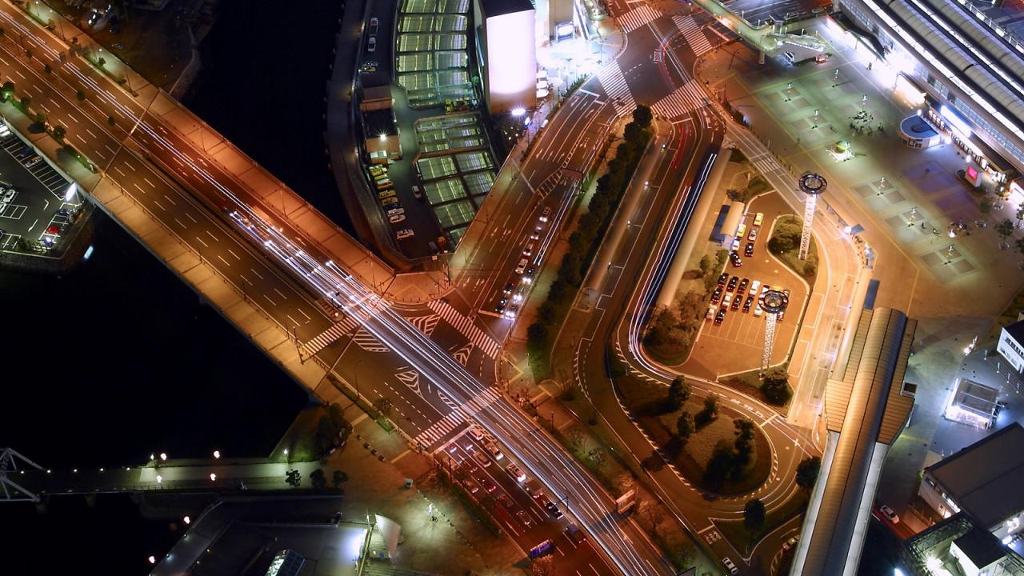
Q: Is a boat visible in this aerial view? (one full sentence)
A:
No, I can't see a single boat in this photo.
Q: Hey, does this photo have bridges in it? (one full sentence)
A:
Yes, a bridge can be made out from above.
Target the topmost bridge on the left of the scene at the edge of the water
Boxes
[88,86,395,397]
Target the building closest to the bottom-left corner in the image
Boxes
[200,533,277,576]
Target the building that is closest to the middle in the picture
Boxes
[414,110,500,257]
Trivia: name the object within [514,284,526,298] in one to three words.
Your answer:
vehicle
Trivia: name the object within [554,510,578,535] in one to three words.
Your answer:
truck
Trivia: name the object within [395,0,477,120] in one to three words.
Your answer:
building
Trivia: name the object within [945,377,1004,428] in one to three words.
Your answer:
building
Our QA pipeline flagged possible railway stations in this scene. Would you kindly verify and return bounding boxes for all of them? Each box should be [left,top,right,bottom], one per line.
[816,0,1024,178]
